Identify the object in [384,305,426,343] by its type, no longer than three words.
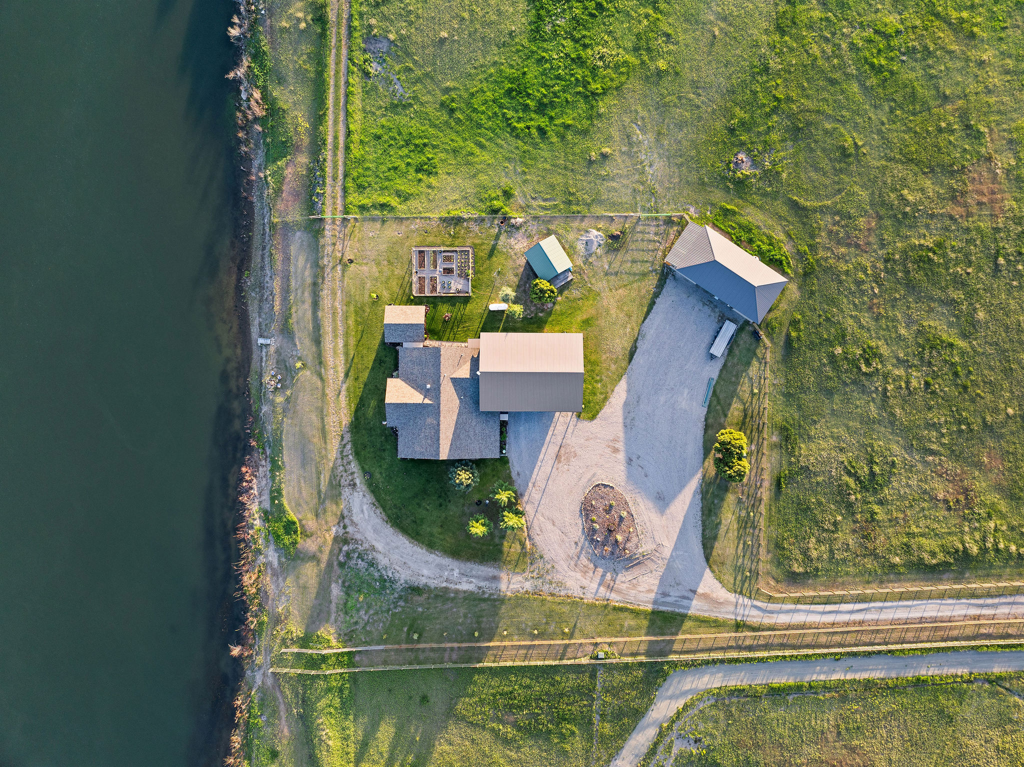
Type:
shed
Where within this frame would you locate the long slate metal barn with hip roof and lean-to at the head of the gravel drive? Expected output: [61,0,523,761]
[665,222,789,325]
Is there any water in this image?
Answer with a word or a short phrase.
Yes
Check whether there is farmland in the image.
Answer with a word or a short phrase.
Yes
